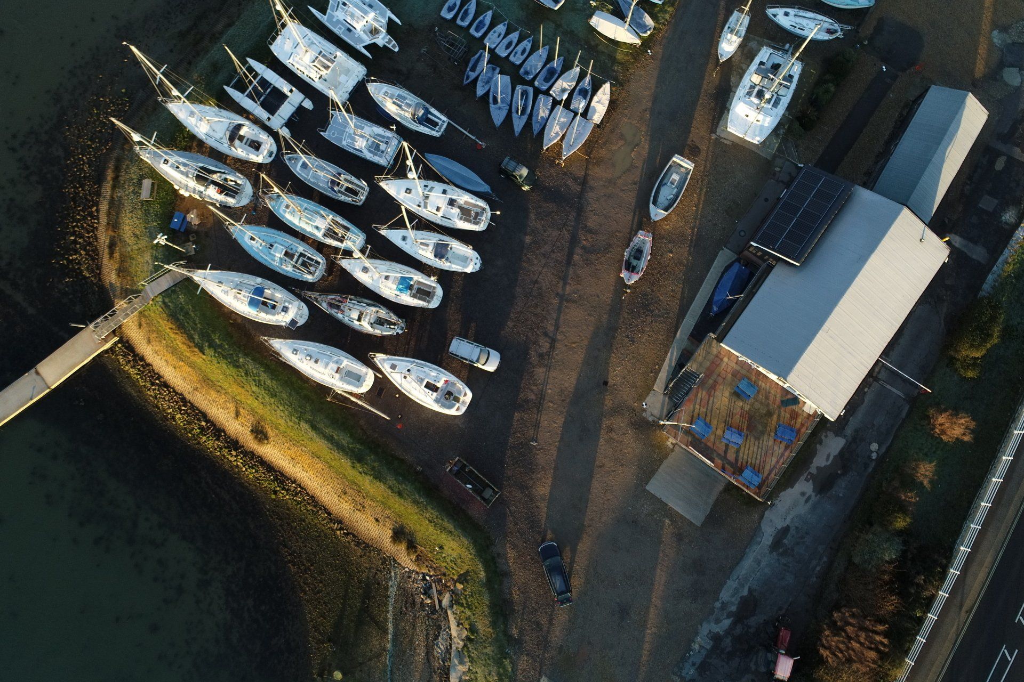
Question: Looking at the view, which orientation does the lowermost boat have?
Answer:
at an angle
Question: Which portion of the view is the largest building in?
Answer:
right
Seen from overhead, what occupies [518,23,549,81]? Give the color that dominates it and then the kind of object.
blue boat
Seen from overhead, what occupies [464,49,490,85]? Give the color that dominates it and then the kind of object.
blue boat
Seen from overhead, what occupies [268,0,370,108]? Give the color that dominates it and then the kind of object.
white boat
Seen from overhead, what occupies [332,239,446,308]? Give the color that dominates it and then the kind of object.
white boat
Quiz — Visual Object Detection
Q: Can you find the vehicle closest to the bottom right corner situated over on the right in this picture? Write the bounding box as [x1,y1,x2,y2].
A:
[760,607,799,679]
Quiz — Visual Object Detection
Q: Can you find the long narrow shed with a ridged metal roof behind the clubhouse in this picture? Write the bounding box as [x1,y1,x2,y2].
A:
[860,85,988,224]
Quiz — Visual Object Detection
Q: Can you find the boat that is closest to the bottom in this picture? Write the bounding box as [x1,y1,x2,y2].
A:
[446,455,501,508]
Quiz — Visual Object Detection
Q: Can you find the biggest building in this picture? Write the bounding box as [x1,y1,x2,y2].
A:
[713,165,951,421]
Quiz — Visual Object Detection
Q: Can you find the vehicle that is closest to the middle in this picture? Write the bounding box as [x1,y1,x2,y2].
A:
[449,336,501,370]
